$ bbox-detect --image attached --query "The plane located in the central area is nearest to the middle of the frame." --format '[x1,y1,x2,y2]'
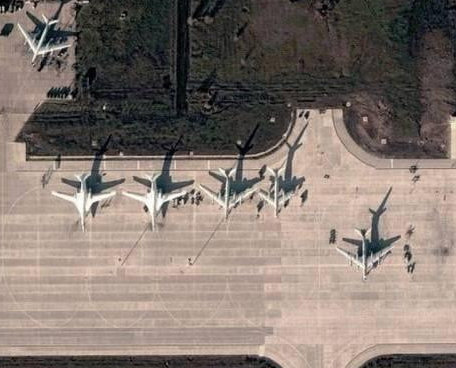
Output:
[198,165,256,220]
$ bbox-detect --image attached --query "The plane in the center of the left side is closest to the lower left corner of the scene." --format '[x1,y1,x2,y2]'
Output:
[51,172,114,233]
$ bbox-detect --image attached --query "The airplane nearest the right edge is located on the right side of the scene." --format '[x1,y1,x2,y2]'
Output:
[335,227,392,281]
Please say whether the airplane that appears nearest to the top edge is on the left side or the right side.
left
